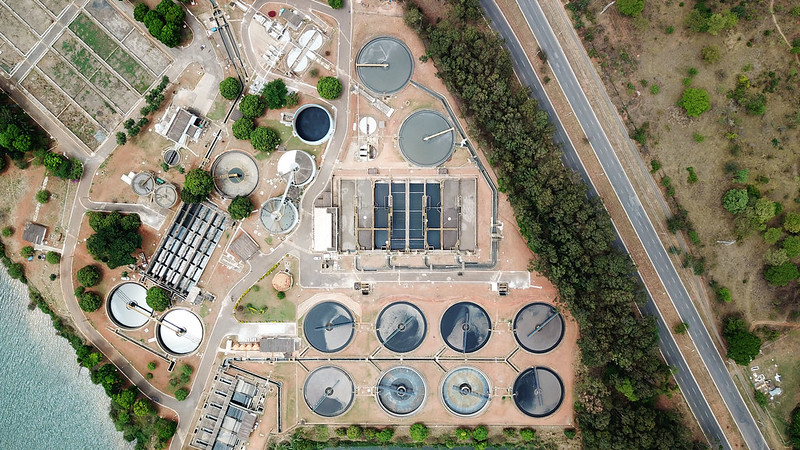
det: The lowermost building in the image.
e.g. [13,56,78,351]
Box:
[181,366,271,450]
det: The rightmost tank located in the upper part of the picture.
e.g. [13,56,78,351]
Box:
[398,109,455,166]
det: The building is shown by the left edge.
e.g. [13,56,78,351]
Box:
[23,223,48,245]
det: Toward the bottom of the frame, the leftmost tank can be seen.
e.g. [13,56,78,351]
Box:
[103,280,153,330]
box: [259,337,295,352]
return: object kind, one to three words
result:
shed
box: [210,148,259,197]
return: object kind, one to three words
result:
storage tank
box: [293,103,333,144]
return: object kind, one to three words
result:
storage tank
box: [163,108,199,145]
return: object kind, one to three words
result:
building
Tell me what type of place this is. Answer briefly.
industrial area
